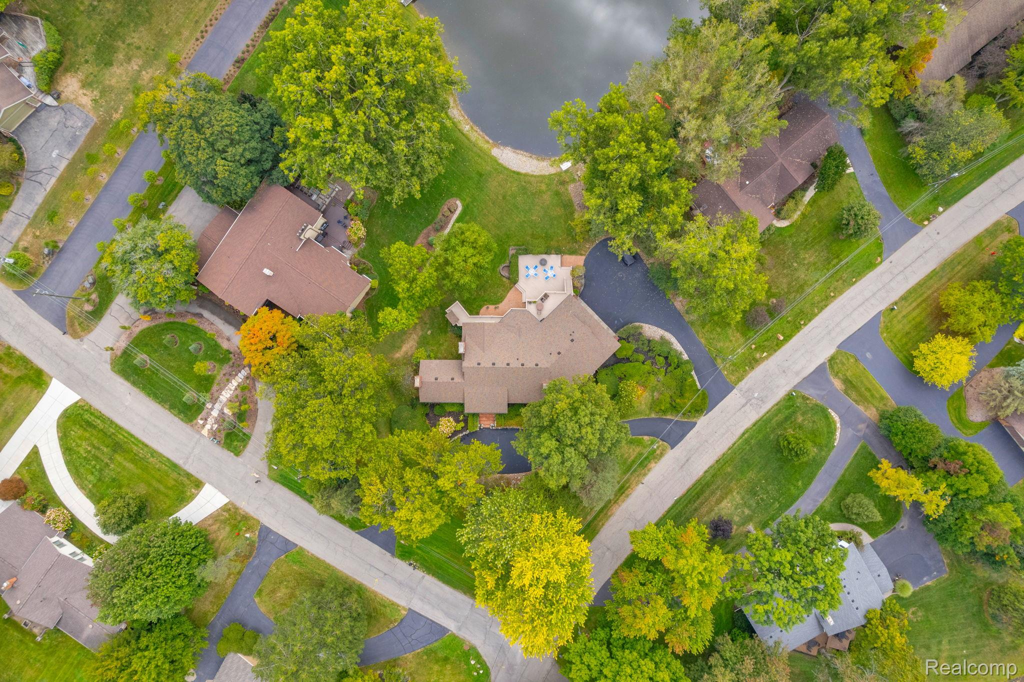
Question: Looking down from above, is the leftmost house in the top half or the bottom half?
top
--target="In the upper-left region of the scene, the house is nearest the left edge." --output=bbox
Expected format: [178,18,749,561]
[0,49,46,133]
